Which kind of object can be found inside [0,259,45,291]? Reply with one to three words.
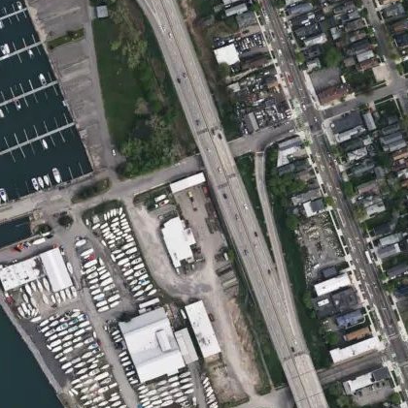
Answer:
building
